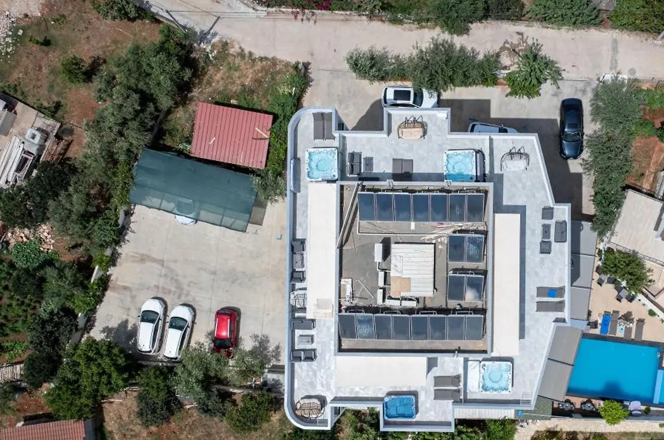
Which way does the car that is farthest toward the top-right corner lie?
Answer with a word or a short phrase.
vertically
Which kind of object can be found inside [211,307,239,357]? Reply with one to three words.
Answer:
car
